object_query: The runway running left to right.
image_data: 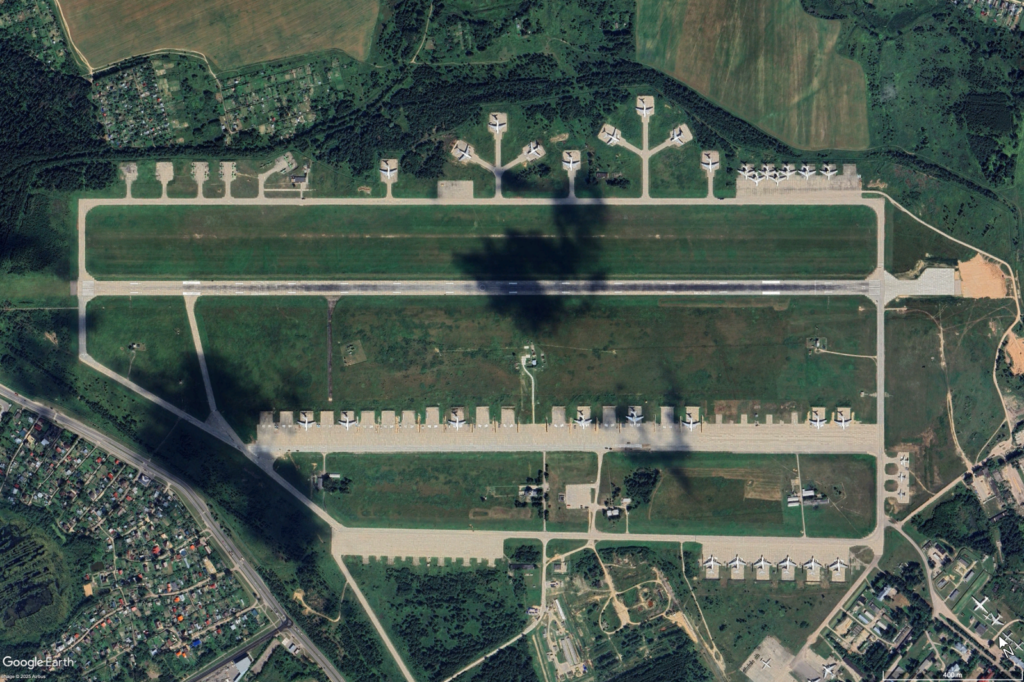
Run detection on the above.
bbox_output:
[77,281,884,295]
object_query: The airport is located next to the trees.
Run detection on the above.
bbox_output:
[70,96,961,682]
